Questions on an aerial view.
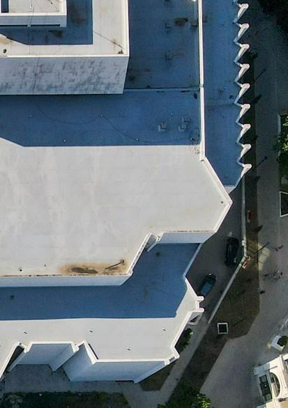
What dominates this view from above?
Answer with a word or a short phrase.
buildings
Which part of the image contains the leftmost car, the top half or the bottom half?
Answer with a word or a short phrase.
bottom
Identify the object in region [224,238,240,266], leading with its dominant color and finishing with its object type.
black car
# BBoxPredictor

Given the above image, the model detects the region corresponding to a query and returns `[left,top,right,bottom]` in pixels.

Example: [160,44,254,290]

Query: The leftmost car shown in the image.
[197,273,218,299]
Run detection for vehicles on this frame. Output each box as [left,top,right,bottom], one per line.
[197,273,218,299]
[224,238,240,266]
